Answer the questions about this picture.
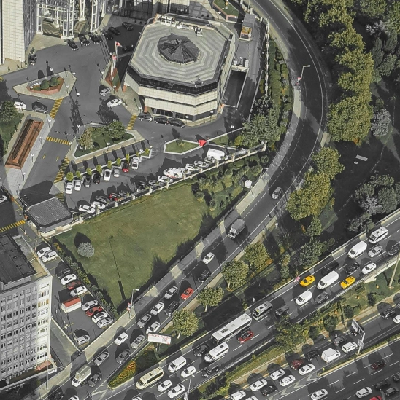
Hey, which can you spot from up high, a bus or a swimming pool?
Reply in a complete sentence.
The image shows a bus.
